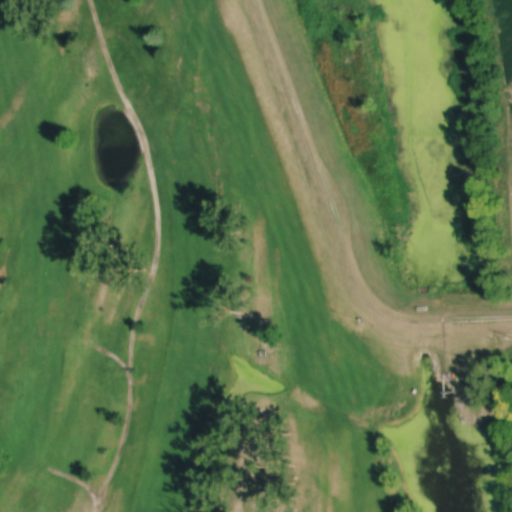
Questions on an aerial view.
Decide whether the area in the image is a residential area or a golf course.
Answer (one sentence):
The picture captures a golf course.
